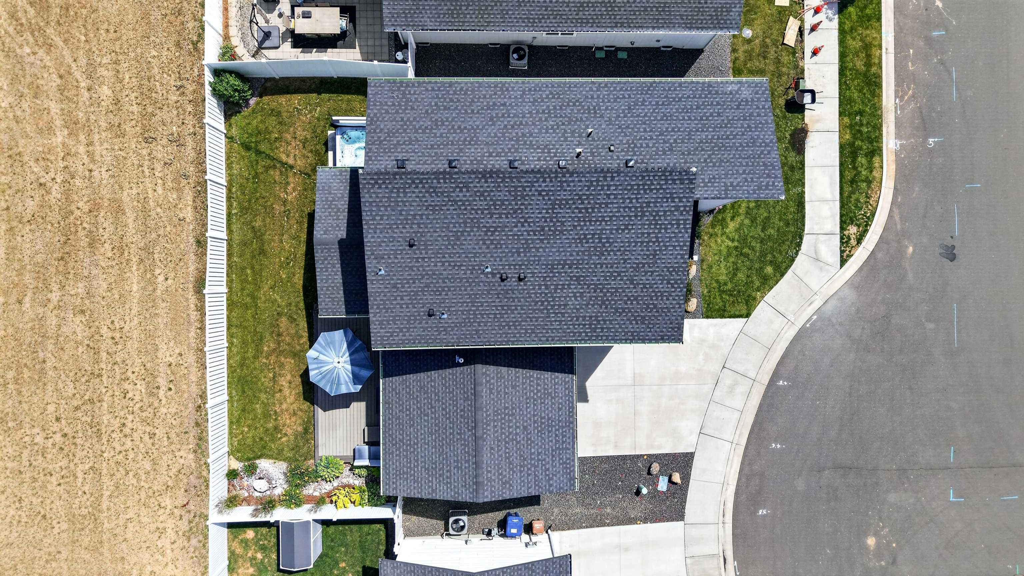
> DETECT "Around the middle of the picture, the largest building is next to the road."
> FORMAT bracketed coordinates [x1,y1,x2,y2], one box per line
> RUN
[314,77,784,502]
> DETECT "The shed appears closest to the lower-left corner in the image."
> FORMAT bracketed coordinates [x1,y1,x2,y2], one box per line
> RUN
[280,520,322,572]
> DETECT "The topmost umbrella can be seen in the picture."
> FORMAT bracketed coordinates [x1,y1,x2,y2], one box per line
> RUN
[250,2,281,49]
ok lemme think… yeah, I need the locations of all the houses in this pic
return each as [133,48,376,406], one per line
[377,527,573,576]
[314,77,784,502]
[383,0,742,53]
